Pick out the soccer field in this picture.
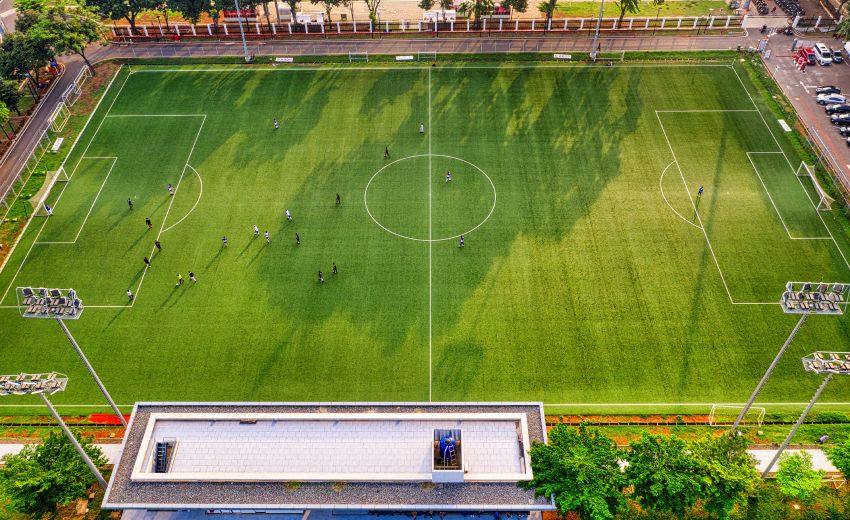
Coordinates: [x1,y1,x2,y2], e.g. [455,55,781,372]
[0,58,850,417]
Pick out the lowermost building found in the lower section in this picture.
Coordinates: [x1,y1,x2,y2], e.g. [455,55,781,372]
[101,402,556,513]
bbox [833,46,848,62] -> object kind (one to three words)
car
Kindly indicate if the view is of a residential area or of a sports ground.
sports ground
